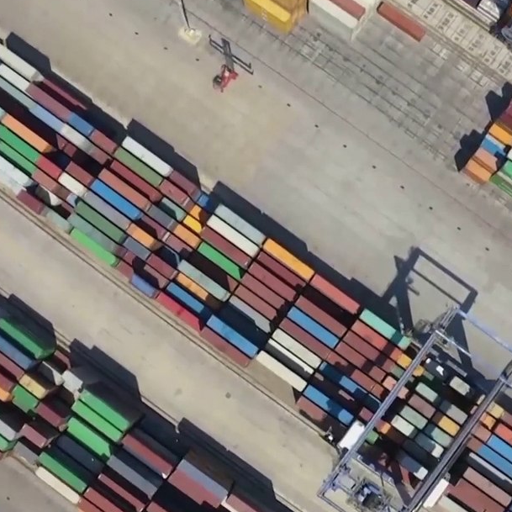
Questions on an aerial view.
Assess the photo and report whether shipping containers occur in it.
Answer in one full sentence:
Yes, a shipping container can be made out from above.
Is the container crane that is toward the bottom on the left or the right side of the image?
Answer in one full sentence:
The container crane that is toward the bottom is on the right side of the image.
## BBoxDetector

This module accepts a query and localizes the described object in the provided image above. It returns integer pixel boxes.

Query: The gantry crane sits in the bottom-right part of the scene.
[319,306,512,512]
